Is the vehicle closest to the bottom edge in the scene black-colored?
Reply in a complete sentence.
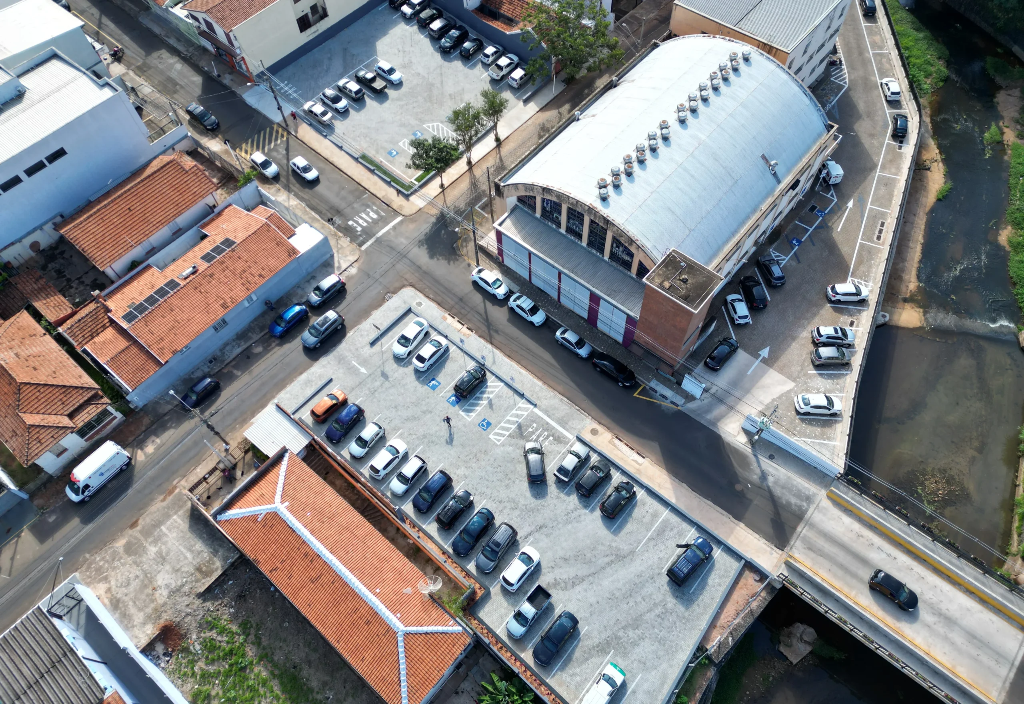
No, the vehicle closest to the bottom edge is white.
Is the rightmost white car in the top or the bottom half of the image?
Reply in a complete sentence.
The rightmost white car is in the top half of the image.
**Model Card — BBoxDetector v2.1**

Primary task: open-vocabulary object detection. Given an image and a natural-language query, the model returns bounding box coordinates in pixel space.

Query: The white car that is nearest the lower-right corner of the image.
[792,394,843,417]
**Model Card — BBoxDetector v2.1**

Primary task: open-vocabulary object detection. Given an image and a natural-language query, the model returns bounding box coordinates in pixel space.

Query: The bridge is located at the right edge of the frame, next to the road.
[779,476,1024,704]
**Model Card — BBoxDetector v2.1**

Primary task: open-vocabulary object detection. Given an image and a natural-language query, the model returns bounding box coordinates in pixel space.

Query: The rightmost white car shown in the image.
[880,78,902,103]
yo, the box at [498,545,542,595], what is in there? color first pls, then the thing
white car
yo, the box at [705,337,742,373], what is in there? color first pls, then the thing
black car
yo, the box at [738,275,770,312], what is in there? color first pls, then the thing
black car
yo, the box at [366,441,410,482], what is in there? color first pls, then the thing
white car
